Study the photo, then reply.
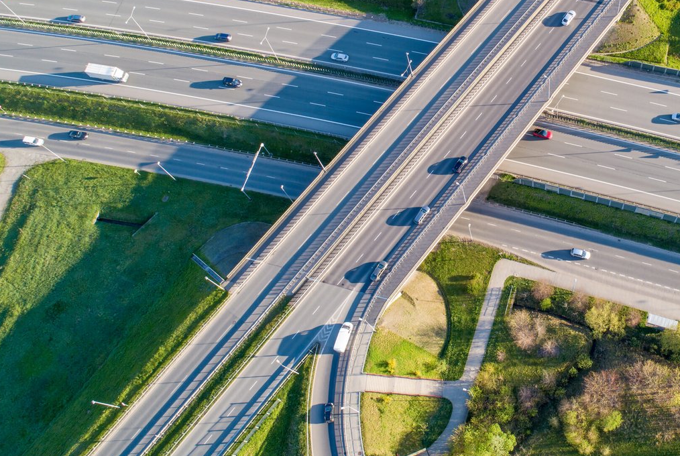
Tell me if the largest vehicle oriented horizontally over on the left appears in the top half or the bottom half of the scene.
top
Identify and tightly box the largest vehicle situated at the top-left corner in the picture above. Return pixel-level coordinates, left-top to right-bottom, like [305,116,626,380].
[83,61,127,81]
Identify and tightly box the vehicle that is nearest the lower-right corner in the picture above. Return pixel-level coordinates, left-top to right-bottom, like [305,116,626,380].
[570,247,590,260]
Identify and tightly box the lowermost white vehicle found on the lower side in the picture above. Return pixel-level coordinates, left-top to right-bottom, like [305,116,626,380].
[331,322,352,354]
